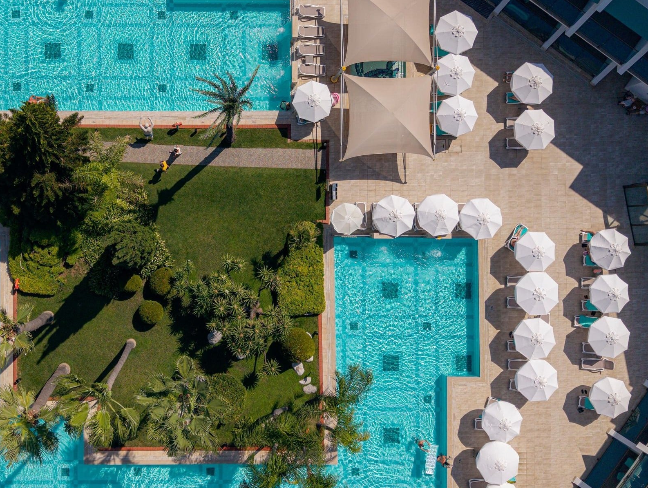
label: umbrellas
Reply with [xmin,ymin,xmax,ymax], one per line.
[431,55,473,96]
[416,193,460,237]
[586,375,631,419]
[480,401,524,443]
[515,271,558,313]
[586,313,631,358]
[586,272,630,315]
[458,197,503,242]
[331,203,364,235]
[291,79,333,123]
[475,441,519,485]
[371,193,416,238]
[511,358,557,402]
[511,109,555,152]
[511,63,554,107]
[510,317,556,361]
[435,93,478,138]
[587,230,631,271]
[510,230,556,273]
[437,11,479,56]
